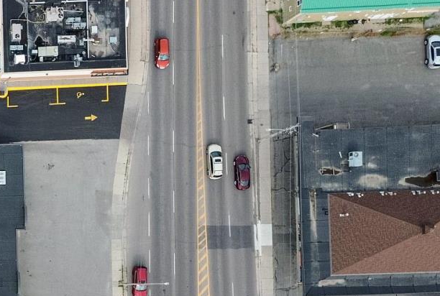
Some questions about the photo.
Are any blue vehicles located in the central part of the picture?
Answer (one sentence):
No, in the central part of the picture there is no blue vehicle.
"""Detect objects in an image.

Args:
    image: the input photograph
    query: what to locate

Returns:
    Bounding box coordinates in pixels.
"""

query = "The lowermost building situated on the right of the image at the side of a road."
[288,119,440,296]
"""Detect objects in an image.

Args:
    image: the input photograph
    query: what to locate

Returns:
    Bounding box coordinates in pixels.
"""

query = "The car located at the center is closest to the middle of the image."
[205,145,226,179]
